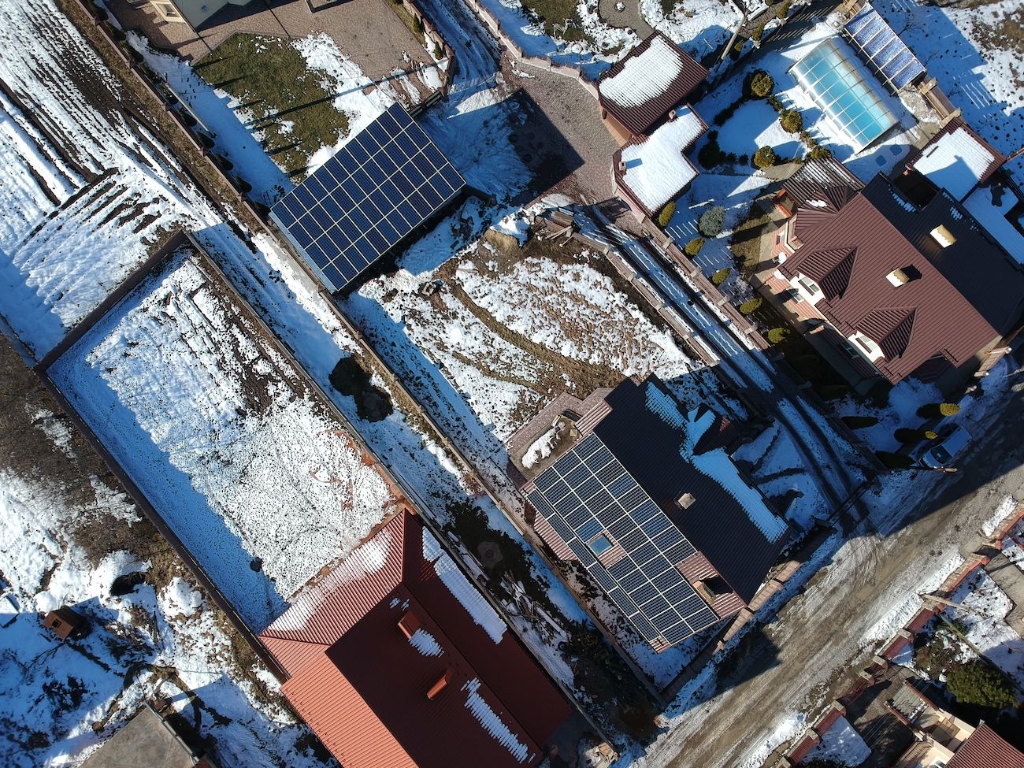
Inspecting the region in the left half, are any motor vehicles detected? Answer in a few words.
No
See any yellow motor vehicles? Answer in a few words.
No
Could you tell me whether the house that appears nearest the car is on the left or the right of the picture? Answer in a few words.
right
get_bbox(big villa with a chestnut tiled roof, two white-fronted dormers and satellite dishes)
[768,149,1024,391]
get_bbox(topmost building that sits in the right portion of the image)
[598,30,709,139]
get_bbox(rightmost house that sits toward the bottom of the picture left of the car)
[510,374,789,654]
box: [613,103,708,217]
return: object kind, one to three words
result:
shed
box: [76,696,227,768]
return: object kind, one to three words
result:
shed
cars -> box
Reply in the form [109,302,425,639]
[915,420,983,475]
